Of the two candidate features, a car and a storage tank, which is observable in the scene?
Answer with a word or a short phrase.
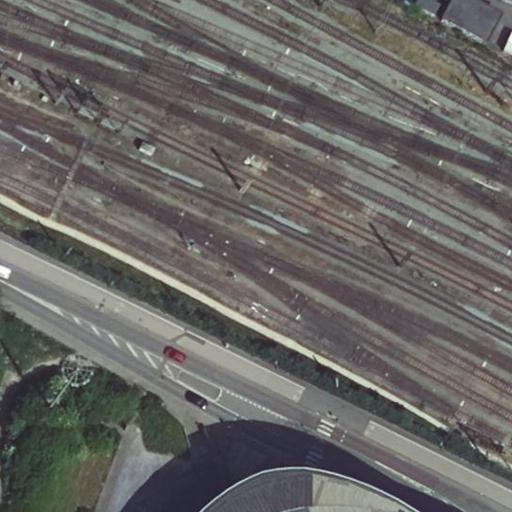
car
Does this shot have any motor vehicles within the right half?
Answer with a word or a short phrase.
No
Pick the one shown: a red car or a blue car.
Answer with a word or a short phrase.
red car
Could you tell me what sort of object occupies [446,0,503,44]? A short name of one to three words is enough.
shed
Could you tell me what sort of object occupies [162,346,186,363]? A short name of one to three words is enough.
car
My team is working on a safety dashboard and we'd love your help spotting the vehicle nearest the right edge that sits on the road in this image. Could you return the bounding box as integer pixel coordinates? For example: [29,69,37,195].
[185,390,208,408]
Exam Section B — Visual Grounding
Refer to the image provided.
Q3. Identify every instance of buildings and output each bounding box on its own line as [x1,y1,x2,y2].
[446,0,503,44]
[410,0,443,16]
[199,467,418,512]
[500,26,512,66]
[138,142,156,158]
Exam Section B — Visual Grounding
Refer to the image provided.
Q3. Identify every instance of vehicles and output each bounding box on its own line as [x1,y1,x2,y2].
[185,390,208,408]
[0,264,12,280]
[162,346,186,363]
